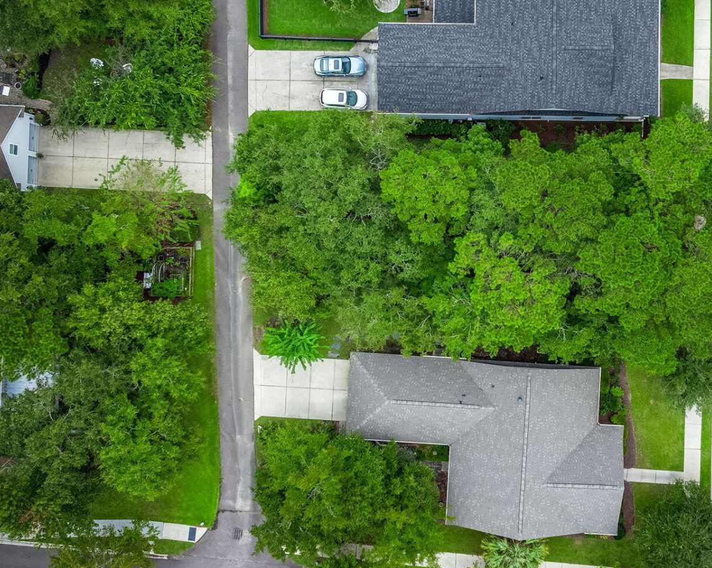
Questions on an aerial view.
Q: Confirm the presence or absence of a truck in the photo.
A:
No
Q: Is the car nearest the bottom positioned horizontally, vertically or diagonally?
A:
horizontally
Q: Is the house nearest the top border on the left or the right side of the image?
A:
right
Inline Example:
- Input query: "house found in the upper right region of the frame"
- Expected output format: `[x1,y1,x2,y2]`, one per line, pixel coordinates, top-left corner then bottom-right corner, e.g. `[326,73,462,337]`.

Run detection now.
[375,0,661,122]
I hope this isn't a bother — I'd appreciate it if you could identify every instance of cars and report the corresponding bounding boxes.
[319,86,368,110]
[313,54,366,77]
